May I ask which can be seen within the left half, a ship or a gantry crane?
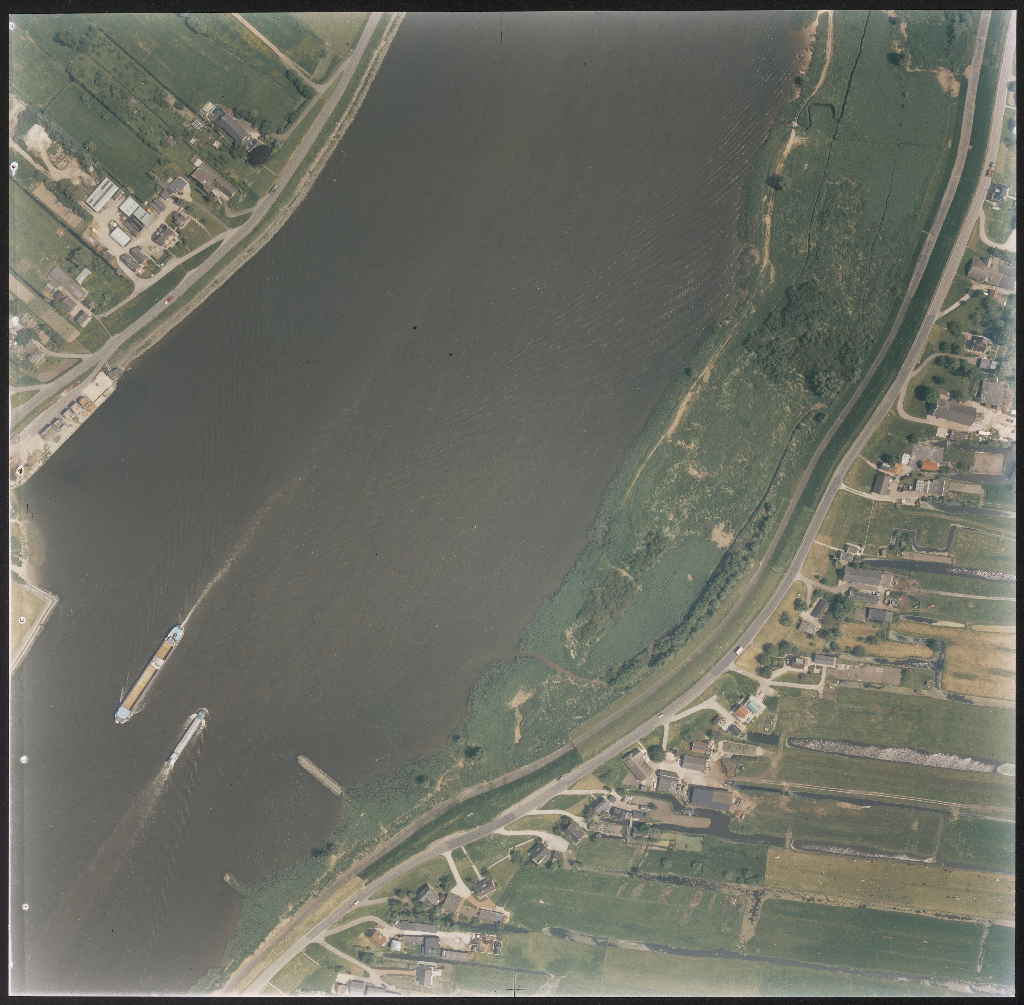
ship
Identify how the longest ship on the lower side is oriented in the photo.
at an angle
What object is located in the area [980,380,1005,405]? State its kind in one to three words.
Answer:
barn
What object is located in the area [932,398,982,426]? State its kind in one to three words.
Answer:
house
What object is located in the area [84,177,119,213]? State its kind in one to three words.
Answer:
building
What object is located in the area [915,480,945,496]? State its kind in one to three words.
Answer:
greenhouse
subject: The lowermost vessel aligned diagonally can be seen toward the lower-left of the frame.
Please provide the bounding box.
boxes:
[168,710,204,766]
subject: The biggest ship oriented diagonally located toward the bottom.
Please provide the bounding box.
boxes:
[113,624,185,723]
